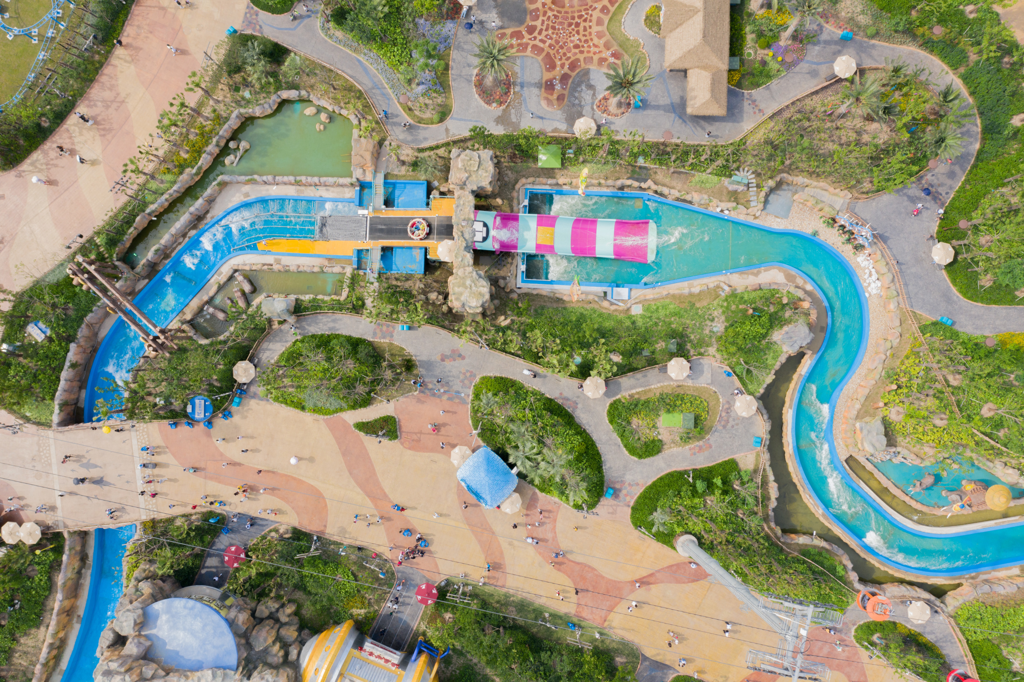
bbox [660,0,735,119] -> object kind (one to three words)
shed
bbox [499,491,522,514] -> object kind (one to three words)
umbrella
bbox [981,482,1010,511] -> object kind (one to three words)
umbrella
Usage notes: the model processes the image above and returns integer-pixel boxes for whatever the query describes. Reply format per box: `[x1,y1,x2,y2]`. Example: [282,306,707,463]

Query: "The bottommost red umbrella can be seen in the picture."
[415,581,438,605]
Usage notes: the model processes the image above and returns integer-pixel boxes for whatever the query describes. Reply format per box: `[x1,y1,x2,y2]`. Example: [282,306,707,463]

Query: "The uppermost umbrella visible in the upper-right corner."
[832,56,855,79]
